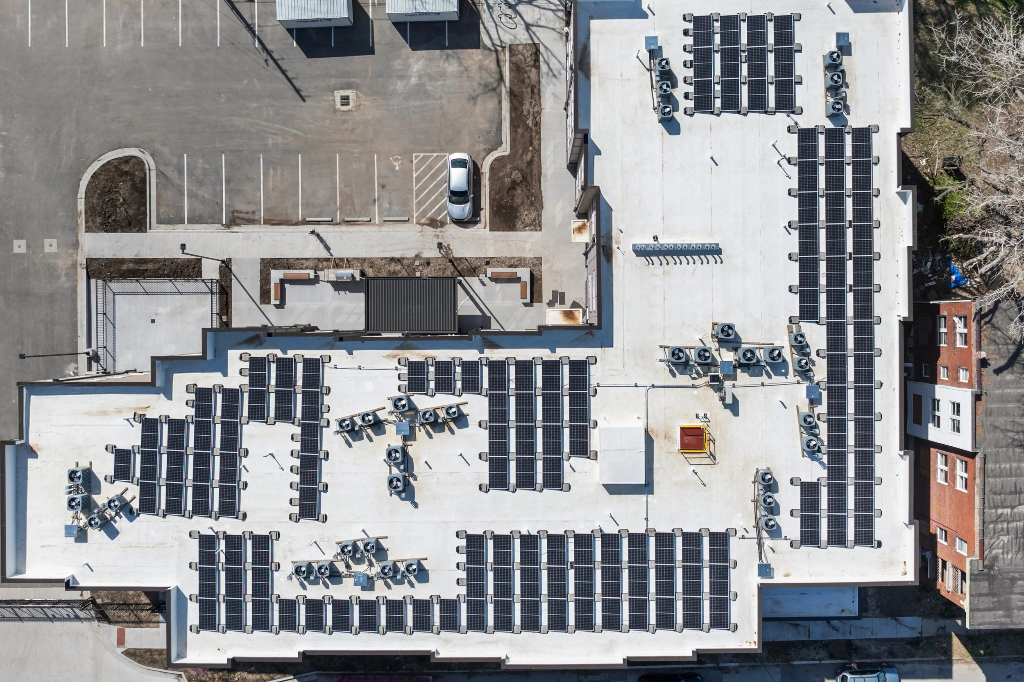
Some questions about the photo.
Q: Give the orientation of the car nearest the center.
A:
vertically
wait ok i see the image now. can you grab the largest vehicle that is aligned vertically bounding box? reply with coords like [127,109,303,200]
[444,153,474,220]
